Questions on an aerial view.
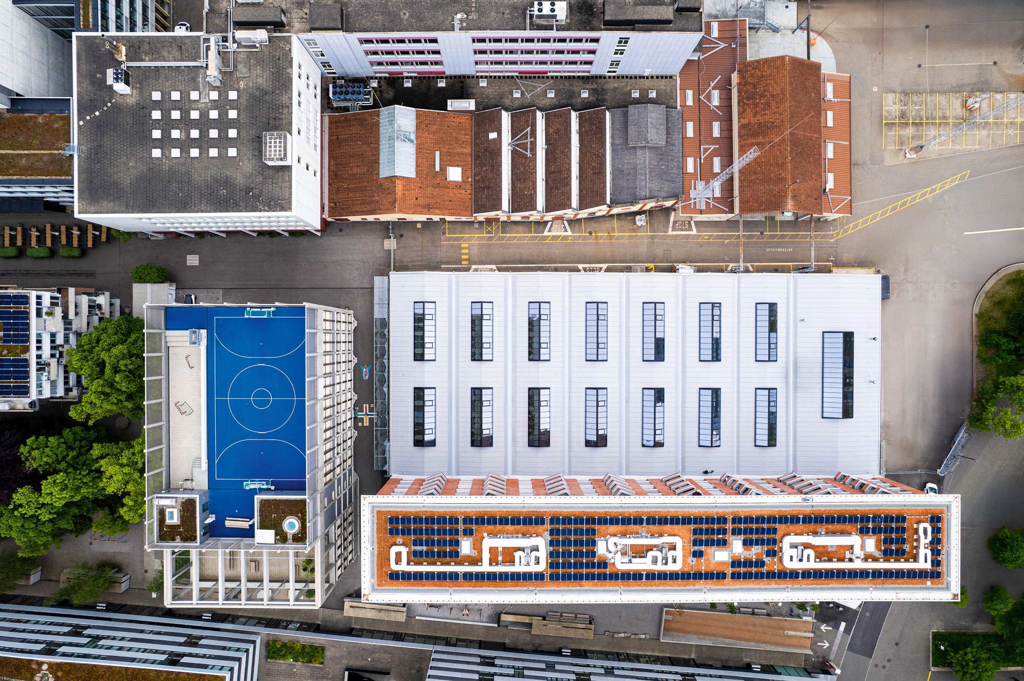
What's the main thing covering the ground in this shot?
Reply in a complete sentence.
Most of the picture is covered by buildings.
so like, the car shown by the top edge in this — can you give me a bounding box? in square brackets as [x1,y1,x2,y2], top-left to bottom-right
[174,17,186,31]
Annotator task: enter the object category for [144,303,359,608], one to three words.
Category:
building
